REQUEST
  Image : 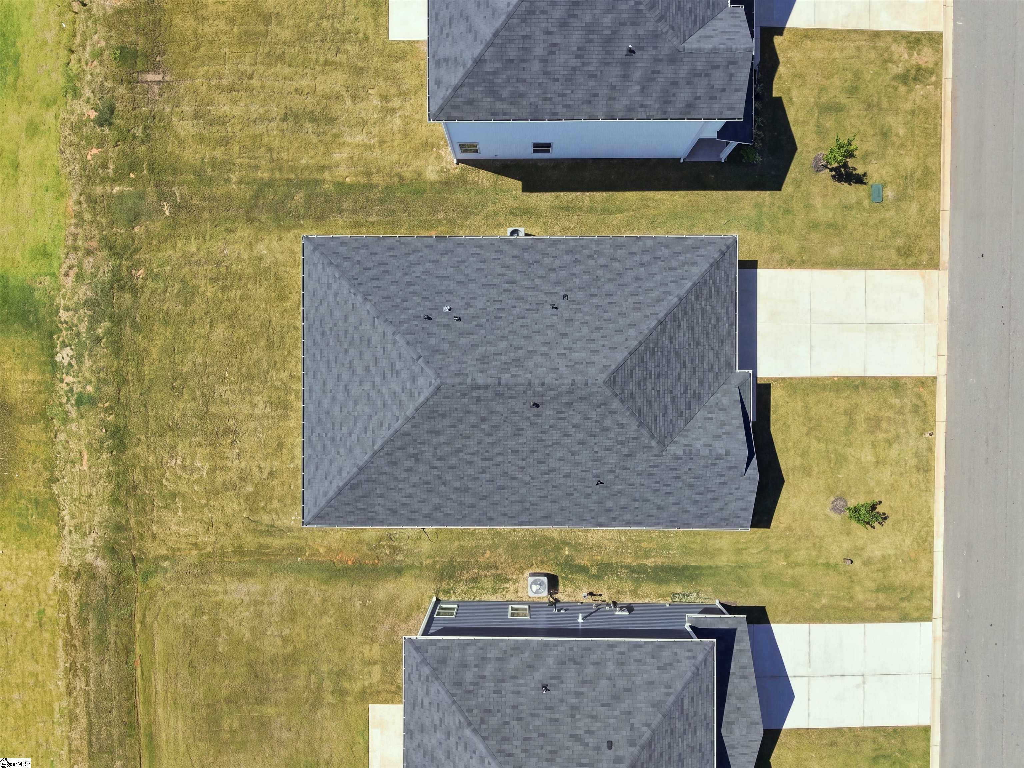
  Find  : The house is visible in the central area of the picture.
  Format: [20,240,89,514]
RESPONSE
[301,234,759,530]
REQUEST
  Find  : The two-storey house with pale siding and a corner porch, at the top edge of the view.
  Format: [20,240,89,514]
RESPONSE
[428,0,758,164]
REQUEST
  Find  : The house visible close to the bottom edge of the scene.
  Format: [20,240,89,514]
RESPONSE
[403,591,764,768]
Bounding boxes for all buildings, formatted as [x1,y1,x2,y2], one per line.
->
[403,591,764,768]
[428,0,758,164]
[301,234,759,530]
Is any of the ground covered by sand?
No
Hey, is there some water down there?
No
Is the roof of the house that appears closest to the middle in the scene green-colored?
No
